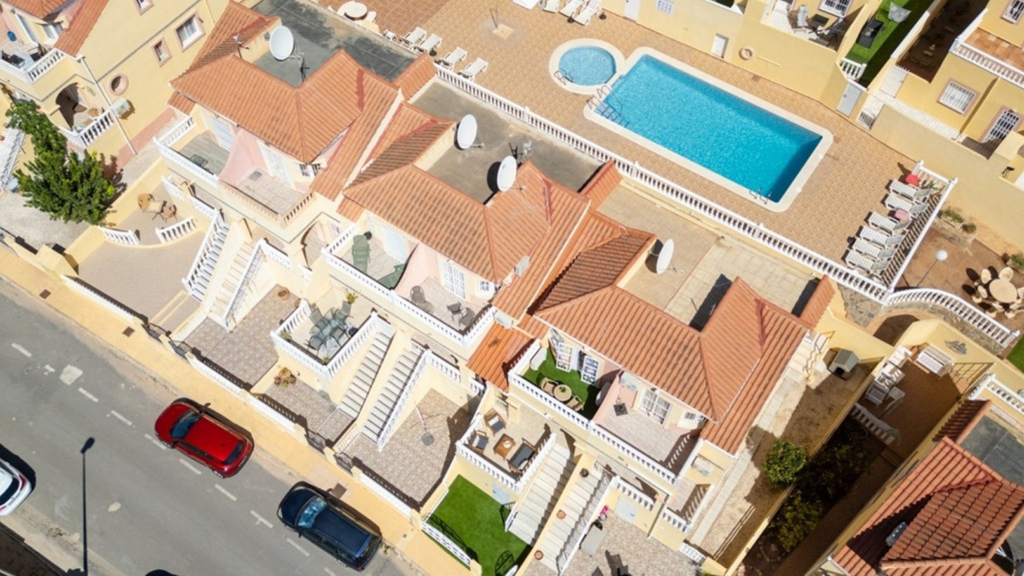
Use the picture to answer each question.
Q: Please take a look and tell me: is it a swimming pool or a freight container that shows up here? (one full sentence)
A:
The image shows a swimming pool.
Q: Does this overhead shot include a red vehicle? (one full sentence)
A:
Yes, there's a red vehicle down there.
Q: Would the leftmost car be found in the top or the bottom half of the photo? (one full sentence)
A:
Seen from above, the leftmost car lies in the bottom half of the view.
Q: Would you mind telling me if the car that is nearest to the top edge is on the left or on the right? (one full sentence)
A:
It is on the left.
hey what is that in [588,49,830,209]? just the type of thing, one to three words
swimming pool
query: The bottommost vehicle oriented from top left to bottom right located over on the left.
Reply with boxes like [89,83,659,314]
[281,485,384,573]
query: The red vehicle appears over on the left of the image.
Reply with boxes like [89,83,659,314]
[160,406,254,479]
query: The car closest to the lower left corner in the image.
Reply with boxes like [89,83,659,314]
[0,462,31,518]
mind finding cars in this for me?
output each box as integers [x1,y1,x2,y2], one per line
[160,406,254,479]
[0,462,31,518]
[281,485,384,573]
